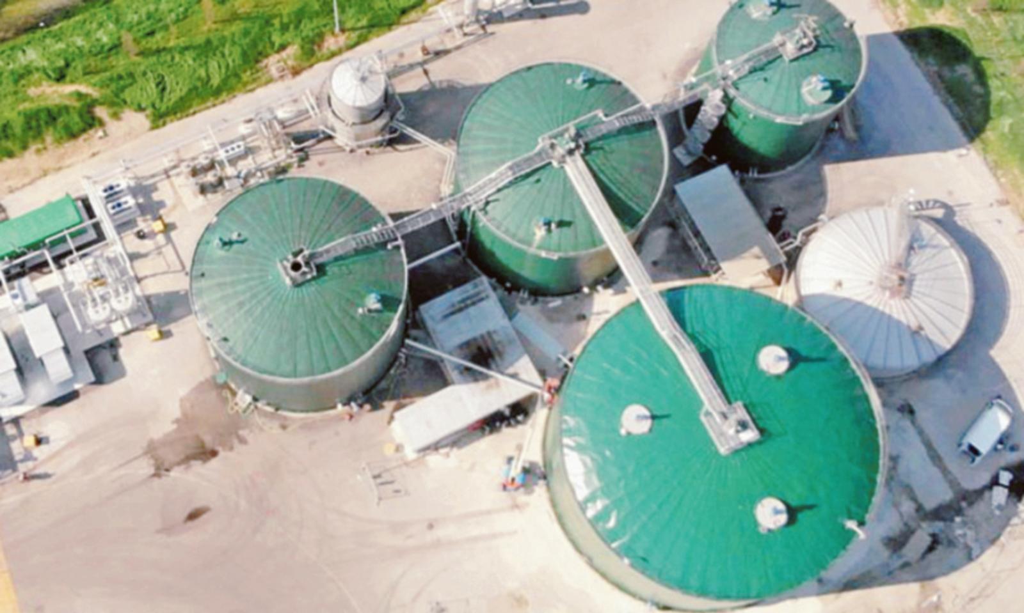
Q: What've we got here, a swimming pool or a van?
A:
van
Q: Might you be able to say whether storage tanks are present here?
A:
Yes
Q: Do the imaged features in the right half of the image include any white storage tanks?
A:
Yes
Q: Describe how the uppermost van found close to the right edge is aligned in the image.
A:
at an angle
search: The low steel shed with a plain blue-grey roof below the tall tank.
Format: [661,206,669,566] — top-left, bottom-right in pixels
[671,164,786,284]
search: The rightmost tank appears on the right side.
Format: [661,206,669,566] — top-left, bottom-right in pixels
[785,194,976,382]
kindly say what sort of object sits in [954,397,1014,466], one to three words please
van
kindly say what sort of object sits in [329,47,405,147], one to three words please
storage tank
